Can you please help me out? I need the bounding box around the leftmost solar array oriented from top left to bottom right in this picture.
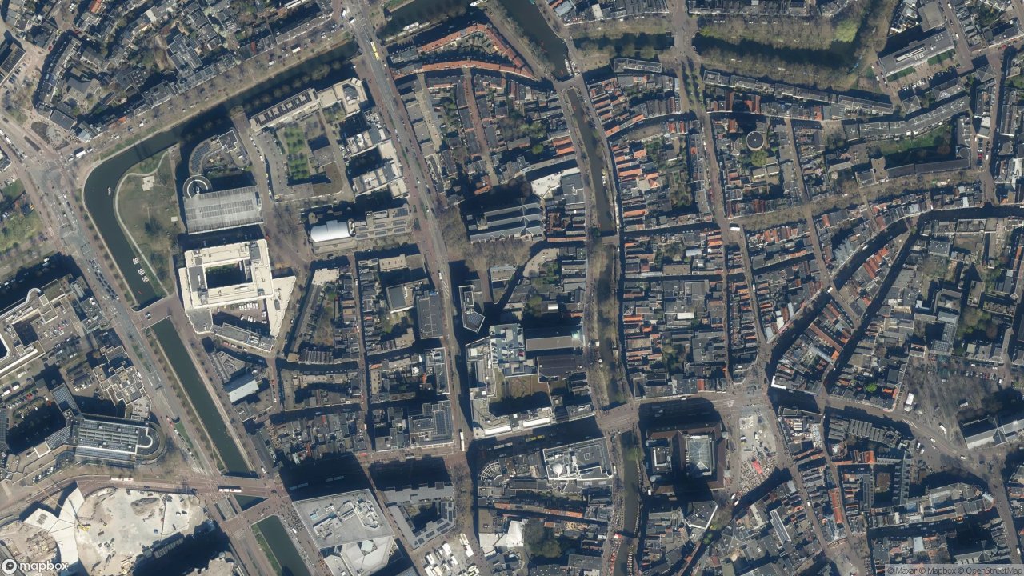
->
[54,387,77,414]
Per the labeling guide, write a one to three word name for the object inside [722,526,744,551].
house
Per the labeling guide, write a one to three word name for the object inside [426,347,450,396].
building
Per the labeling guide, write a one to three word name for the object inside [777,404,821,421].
building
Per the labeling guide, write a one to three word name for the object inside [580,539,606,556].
house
